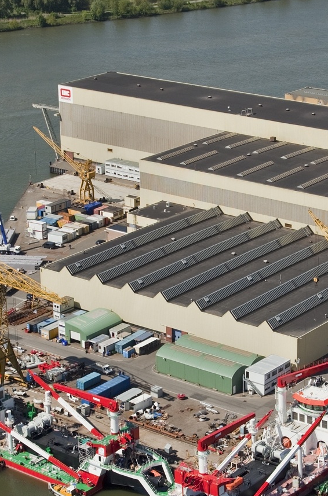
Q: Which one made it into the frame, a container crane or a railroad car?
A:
container crane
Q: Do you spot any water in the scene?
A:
Yes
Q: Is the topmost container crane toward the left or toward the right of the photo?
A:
left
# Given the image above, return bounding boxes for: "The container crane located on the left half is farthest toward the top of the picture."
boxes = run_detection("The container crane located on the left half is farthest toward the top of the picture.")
[33,127,98,202]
